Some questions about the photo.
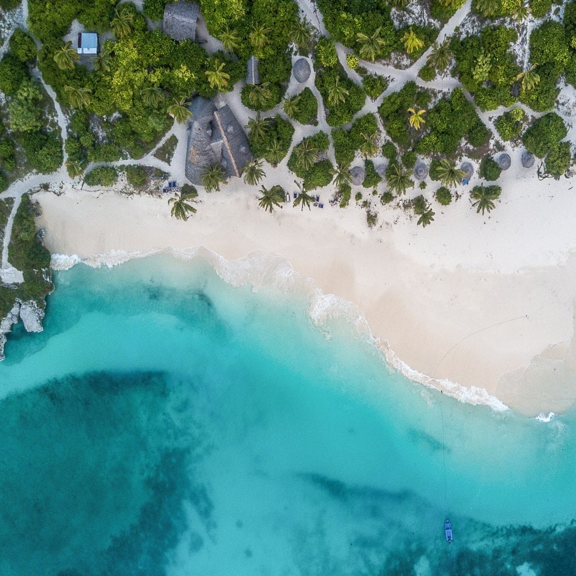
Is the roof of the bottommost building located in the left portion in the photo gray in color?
Yes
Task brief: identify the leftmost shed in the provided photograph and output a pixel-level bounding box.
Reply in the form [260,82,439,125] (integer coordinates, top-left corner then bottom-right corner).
[78,34,99,54]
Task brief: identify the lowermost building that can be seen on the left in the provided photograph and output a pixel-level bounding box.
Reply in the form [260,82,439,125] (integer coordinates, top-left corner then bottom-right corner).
[185,96,253,187]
